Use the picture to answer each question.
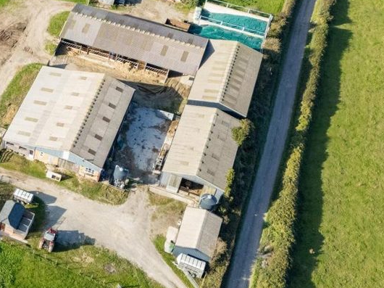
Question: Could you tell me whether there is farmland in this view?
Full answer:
Yes, farmland shows up in the scene.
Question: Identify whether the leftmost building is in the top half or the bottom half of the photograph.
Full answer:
The leftmost building is in the bottom half of the image.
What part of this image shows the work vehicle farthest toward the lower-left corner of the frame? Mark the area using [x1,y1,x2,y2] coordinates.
[40,227,59,254]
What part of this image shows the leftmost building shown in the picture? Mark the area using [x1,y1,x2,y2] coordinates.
[0,202,42,245]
